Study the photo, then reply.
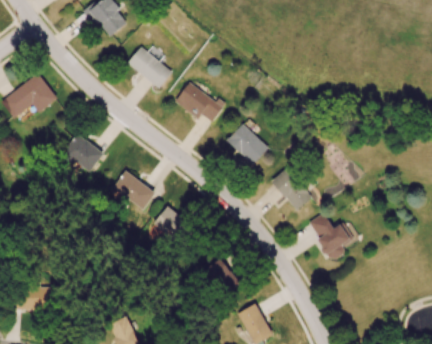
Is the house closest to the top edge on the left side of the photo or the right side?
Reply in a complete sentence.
You can find the house closest to the top edge on the left side of the picture.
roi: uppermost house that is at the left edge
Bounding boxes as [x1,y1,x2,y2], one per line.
[2,76,56,117]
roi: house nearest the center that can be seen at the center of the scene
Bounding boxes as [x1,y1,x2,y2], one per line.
[228,124,268,164]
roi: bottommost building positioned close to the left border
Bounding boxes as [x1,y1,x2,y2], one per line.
[18,286,50,316]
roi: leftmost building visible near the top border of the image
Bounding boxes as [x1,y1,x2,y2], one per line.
[86,0,126,34]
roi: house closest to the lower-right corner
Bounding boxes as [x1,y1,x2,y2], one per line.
[308,215,352,258]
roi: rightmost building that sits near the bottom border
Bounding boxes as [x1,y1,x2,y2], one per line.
[238,304,273,344]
